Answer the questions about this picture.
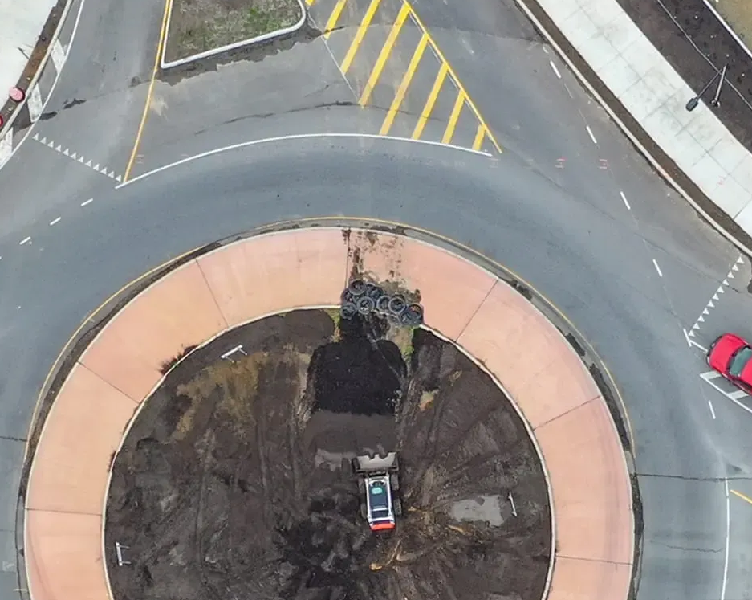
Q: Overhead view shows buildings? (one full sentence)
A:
No, no building is visible in the scene.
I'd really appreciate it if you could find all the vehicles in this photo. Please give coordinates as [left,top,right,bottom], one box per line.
[349,452,400,529]
[706,334,752,396]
